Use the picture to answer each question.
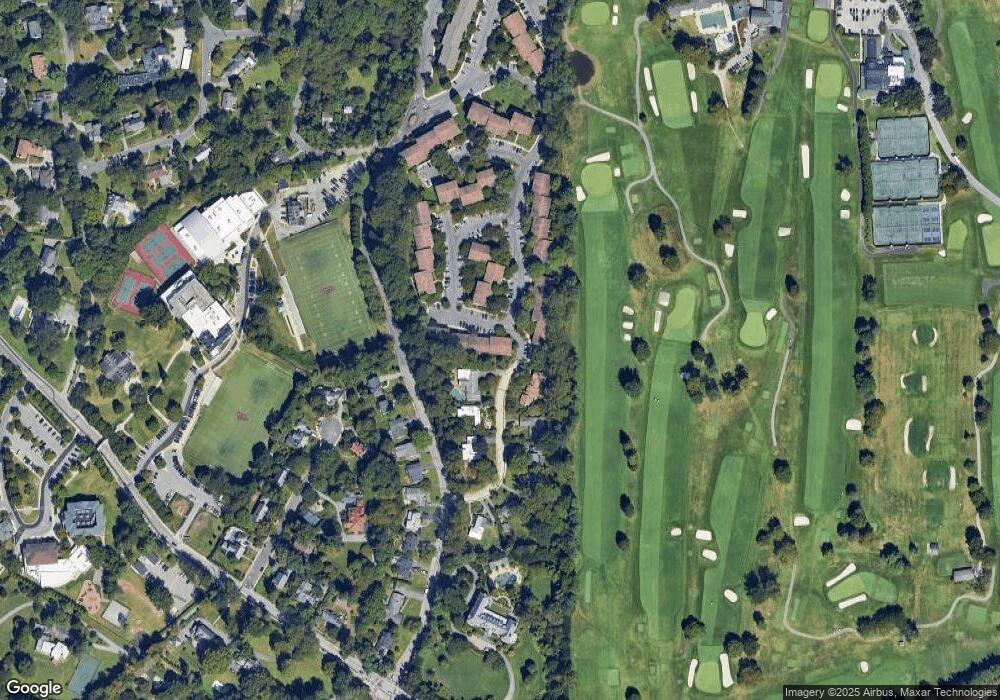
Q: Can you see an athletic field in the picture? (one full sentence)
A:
Yes, the photo shows an athletic field.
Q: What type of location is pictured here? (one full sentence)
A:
The area seen from above is a golf course.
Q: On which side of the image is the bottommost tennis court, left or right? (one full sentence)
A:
It is on the left.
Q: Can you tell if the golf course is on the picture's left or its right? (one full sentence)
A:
You can find the golf course on the right side of the picture.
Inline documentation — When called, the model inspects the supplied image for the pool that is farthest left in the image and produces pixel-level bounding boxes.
[451,387,466,402]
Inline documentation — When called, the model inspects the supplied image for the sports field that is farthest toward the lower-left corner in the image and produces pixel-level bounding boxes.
[184,350,293,475]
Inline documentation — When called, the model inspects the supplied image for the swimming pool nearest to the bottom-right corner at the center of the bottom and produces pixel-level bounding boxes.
[495,573,518,586]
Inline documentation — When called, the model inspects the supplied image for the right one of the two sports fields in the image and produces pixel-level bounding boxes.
[280,222,372,349]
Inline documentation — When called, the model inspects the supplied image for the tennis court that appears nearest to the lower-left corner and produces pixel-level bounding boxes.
[68,655,100,693]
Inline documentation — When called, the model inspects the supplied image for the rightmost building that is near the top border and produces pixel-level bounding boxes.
[865,34,905,91]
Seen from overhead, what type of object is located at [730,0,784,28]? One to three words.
building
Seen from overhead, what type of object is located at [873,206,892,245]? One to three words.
tennis court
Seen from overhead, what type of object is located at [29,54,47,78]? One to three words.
house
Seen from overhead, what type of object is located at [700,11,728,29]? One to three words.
swimming pool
